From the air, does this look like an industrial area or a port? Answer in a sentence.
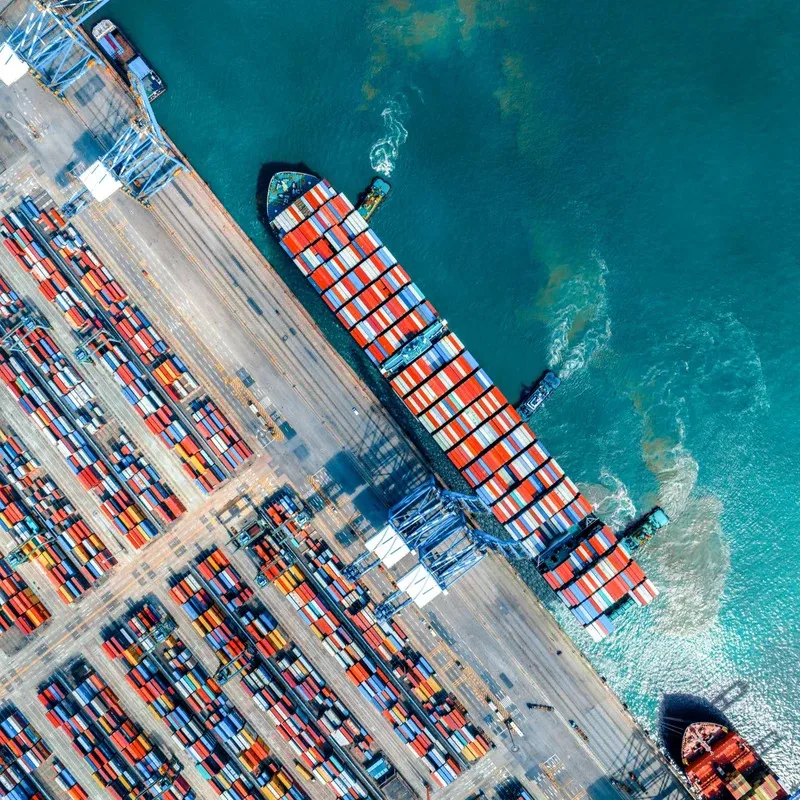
What you see here is a port.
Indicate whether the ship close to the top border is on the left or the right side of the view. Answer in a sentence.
It is on the left.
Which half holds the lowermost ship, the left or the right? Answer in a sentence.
The lowermost ship appears in the right half of the scene.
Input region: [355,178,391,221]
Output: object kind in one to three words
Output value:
boat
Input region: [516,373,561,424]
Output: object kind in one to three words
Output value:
boat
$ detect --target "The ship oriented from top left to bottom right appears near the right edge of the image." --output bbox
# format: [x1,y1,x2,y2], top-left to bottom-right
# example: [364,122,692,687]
[623,710,792,800]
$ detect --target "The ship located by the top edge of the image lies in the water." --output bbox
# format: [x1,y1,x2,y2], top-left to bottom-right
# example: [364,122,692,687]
[95,20,169,102]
